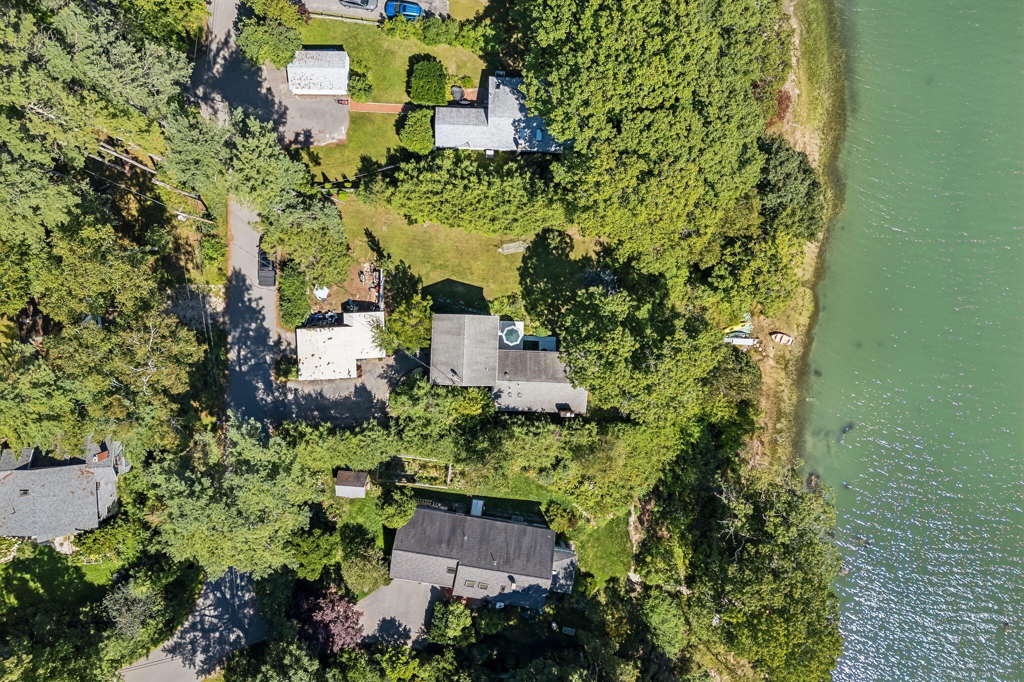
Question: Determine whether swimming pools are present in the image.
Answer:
No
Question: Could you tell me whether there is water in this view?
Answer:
Yes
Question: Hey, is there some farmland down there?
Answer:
No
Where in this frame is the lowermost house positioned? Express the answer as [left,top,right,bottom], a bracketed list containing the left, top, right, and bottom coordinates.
[389,504,577,610]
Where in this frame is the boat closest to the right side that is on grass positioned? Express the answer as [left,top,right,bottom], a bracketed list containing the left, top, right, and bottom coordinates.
[773,334,797,347]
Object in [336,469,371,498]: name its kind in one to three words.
shed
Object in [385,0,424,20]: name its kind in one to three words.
car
